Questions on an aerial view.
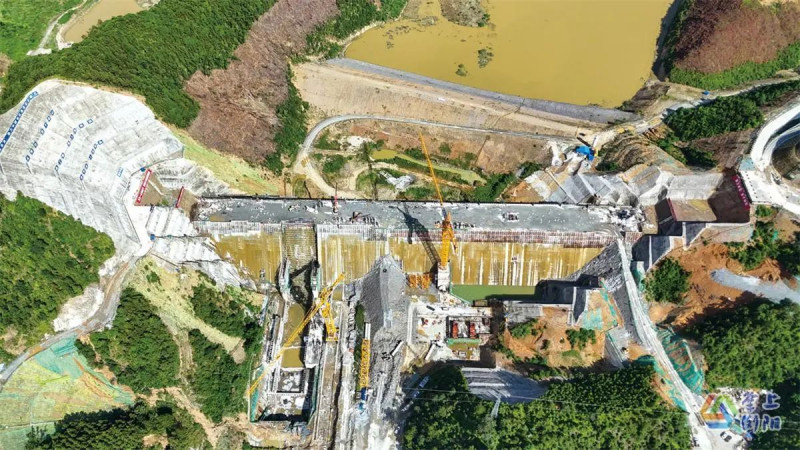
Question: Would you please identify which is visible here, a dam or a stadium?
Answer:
dam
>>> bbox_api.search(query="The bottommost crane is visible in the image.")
[245,274,352,395]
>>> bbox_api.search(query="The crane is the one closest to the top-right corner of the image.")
[419,127,462,294]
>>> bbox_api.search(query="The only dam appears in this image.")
[195,195,651,310]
